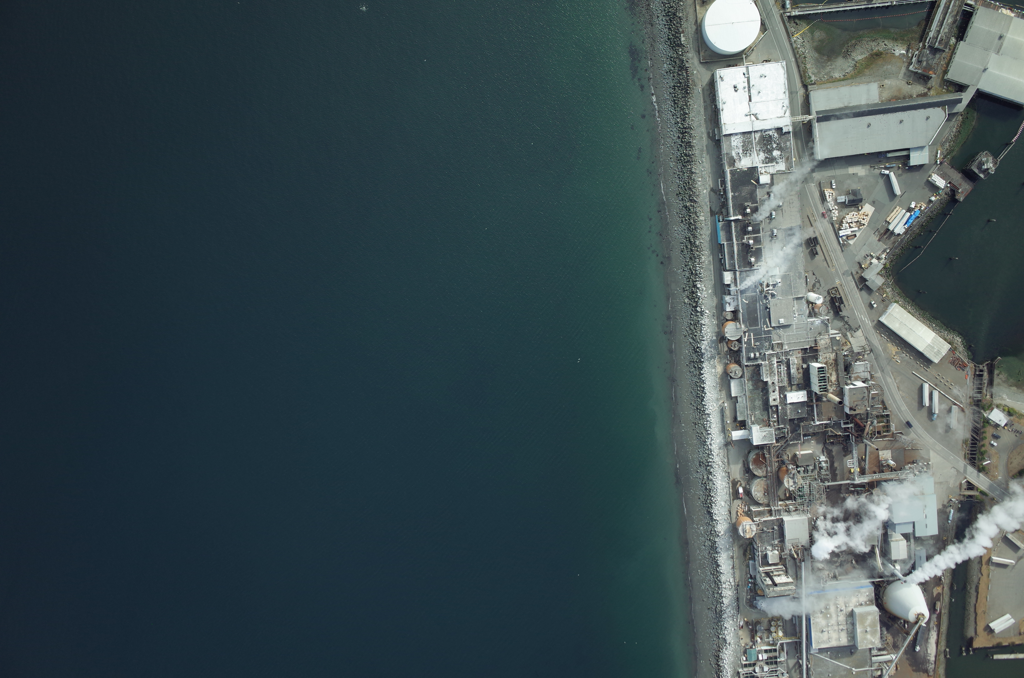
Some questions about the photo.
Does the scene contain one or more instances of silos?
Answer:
Yes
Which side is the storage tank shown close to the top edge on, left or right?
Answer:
right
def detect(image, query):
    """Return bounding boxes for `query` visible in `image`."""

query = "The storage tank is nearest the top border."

[701,0,761,56]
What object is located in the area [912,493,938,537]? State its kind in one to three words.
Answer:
building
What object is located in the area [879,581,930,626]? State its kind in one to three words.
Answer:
silo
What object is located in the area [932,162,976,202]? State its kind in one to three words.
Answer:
pier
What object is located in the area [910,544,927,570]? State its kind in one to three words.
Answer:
building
